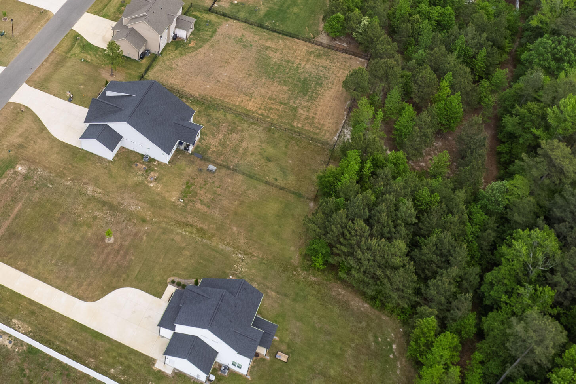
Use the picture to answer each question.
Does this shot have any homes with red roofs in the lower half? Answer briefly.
No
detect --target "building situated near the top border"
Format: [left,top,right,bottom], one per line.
[111,0,197,60]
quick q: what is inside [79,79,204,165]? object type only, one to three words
house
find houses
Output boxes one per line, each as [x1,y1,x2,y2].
[111,0,197,60]
[79,79,204,165]
[156,274,278,384]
